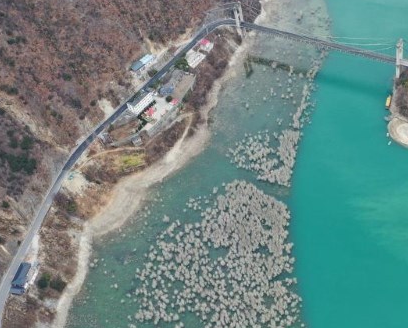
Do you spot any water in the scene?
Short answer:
Yes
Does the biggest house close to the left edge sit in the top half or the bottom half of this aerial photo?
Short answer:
bottom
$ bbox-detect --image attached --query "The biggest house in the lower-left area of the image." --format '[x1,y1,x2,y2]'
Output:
[13,262,34,288]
